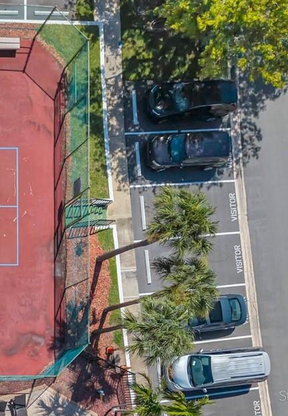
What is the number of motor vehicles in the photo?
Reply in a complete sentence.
Looking from above, you can make out 4 motor vehicles.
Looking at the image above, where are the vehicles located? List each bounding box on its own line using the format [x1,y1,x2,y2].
[139,72,238,124]
[139,126,234,174]
[163,349,271,393]
[186,292,260,337]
